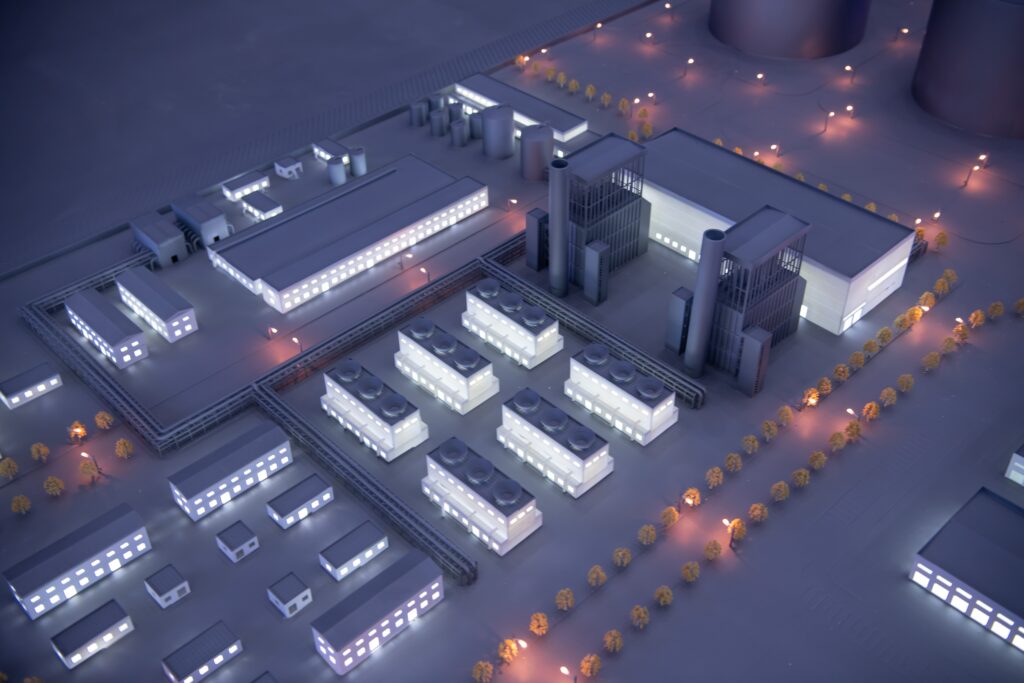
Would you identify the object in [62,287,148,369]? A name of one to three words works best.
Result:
building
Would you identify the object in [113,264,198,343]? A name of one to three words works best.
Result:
building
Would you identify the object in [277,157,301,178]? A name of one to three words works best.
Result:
shed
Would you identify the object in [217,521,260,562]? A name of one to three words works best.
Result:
shed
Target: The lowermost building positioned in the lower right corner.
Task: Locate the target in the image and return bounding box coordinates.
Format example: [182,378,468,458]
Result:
[909,484,1024,650]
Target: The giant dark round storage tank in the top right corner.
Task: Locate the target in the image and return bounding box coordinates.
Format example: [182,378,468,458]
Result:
[912,0,1024,141]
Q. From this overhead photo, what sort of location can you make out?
industrial area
